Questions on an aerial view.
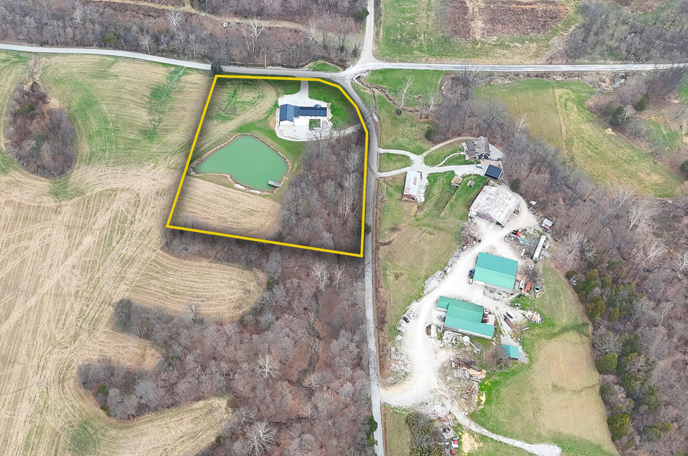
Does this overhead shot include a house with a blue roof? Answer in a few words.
Yes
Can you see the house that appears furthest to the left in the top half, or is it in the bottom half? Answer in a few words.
top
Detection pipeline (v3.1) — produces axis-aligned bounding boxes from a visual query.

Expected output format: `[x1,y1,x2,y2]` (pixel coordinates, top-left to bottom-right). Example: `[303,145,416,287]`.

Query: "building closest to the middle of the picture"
[401,169,422,203]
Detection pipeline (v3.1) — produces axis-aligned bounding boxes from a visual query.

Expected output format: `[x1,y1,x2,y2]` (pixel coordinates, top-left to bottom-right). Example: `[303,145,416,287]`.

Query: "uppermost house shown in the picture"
[279,102,331,129]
